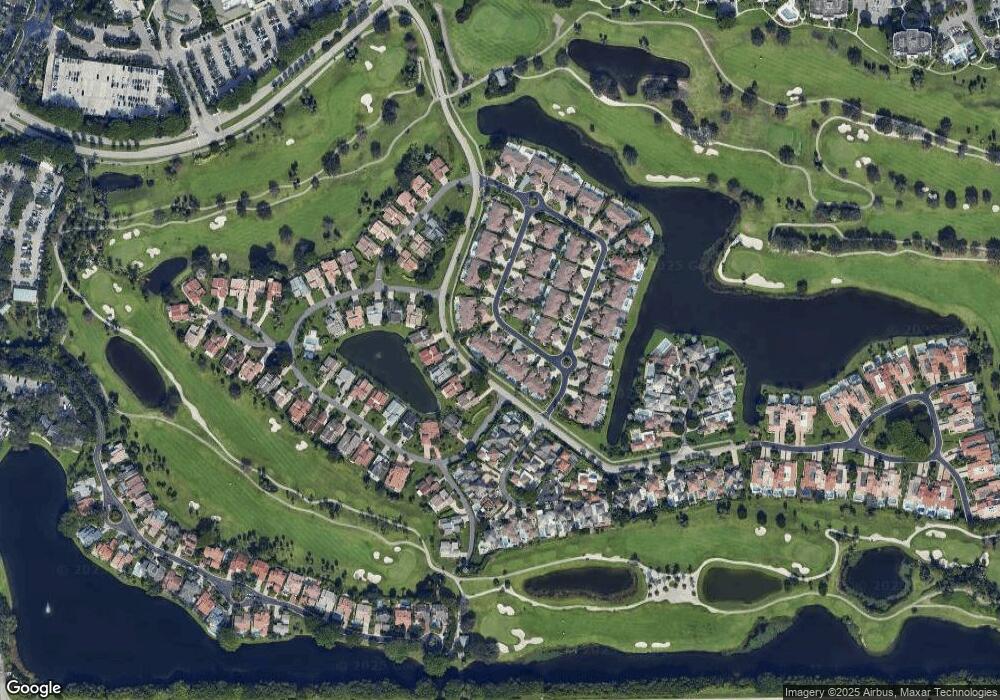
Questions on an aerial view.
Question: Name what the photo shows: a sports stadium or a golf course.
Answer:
golf course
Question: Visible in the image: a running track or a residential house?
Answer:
residential house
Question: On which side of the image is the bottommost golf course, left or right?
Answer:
right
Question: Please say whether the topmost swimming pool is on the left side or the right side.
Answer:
right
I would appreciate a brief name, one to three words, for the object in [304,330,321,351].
swimming pool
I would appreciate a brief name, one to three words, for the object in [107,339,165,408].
pond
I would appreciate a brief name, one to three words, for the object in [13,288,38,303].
shed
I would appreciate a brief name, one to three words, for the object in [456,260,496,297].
house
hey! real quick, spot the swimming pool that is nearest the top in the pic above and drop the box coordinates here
[778,0,801,22]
